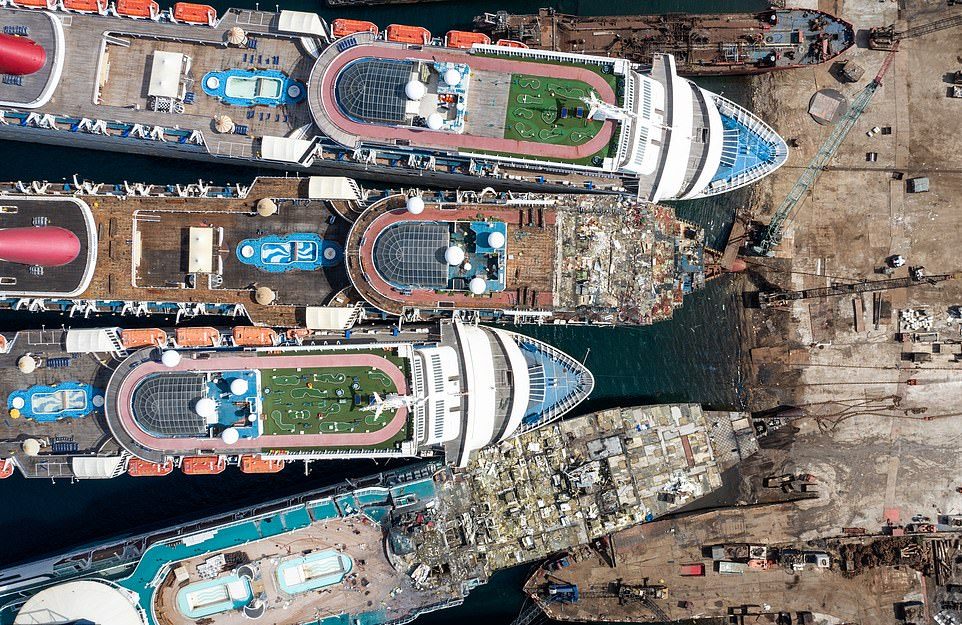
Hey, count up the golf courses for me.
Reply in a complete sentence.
Altogether the scene contains 2 golf courses.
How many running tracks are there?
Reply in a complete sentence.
I count 3 running tracks.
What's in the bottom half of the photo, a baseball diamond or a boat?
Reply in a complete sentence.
Looking in the bottom half of the photo, you will find a boat.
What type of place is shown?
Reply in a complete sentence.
This looks like a parking lot.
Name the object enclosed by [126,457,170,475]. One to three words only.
boat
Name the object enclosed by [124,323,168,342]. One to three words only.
boat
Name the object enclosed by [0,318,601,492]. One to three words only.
ship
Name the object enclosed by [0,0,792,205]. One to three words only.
ship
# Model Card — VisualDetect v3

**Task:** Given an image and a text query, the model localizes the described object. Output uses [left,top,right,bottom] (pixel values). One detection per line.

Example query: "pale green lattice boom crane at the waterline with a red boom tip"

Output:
[741,38,908,263]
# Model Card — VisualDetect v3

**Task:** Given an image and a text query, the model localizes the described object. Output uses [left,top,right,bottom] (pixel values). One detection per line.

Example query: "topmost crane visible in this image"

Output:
[860,8,962,55]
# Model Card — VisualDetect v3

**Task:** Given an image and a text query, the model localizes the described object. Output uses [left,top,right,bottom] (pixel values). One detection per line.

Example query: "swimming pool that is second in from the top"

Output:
[235,232,343,273]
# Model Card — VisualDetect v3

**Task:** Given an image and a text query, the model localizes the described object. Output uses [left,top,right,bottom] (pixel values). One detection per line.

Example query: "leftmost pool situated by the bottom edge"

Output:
[177,571,257,617]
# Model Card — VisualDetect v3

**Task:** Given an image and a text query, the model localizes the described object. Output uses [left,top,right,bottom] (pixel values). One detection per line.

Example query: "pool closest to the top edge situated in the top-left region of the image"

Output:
[200,65,307,109]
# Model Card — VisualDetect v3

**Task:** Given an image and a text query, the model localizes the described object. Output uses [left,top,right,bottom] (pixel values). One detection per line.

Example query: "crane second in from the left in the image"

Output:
[631,577,676,625]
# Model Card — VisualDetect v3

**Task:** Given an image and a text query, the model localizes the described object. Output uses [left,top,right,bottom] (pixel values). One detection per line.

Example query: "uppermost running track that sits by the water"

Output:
[319,43,613,161]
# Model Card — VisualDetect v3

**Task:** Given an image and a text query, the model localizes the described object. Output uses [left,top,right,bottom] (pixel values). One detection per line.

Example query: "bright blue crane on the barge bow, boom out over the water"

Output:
[520,577,581,625]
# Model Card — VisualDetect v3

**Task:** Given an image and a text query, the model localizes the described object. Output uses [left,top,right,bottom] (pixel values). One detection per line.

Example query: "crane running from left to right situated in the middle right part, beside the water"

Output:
[744,274,955,309]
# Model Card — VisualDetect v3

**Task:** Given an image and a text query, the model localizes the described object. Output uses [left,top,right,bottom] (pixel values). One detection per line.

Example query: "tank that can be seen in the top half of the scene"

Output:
[807,87,847,126]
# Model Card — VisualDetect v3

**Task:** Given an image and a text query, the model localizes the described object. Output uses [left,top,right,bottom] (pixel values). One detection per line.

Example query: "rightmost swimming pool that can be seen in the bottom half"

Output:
[276,546,355,595]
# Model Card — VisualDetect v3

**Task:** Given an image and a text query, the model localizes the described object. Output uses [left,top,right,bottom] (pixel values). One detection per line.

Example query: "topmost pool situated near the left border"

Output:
[4,382,108,423]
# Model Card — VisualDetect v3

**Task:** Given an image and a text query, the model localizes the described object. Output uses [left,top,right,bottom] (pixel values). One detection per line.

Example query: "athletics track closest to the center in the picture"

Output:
[357,206,551,309]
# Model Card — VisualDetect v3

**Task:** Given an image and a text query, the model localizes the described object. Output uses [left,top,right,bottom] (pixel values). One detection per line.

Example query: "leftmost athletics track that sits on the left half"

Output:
[118,350,412,451]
